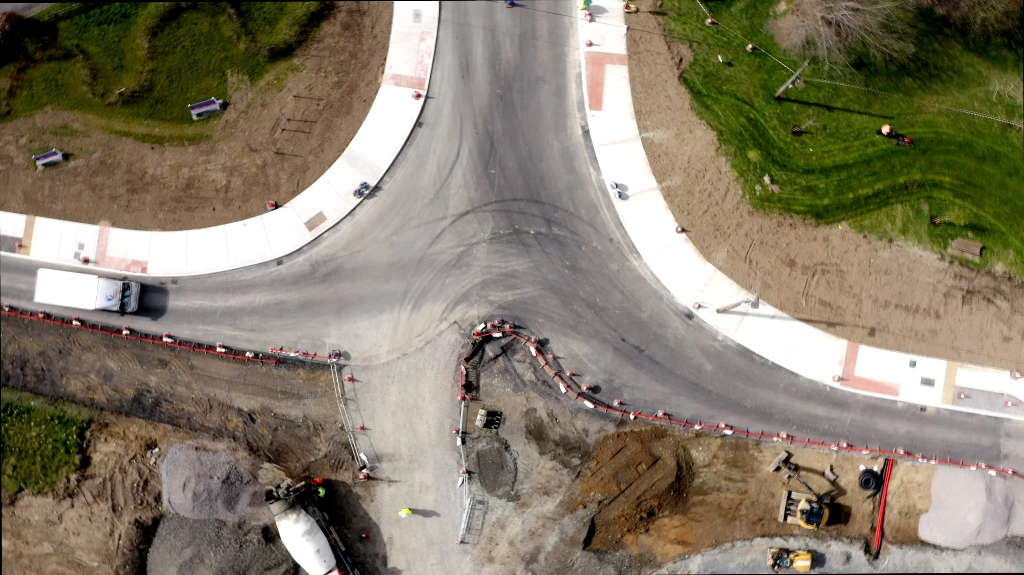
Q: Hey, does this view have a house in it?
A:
No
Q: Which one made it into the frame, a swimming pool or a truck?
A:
truck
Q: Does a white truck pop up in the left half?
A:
Yes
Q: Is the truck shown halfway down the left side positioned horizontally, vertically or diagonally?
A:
horizontally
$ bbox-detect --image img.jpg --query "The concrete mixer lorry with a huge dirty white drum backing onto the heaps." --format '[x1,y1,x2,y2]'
[262,469,353,575]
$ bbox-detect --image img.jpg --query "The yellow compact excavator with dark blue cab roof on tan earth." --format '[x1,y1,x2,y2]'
[768,449,832,531]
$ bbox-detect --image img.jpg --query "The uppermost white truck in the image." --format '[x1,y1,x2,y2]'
[39,268,144,315]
